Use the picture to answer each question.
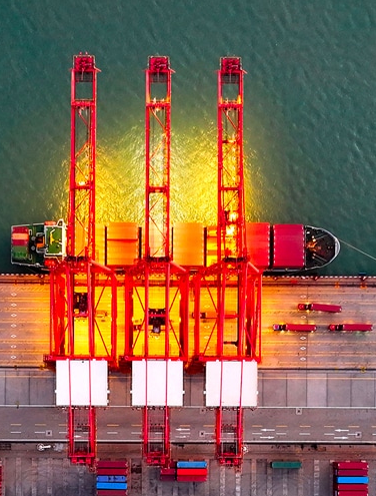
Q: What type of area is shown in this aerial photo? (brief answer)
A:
port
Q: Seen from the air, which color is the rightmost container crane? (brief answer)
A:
red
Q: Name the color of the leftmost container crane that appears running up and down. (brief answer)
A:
red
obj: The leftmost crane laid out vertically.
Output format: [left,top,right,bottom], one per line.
[39,49,125,476]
